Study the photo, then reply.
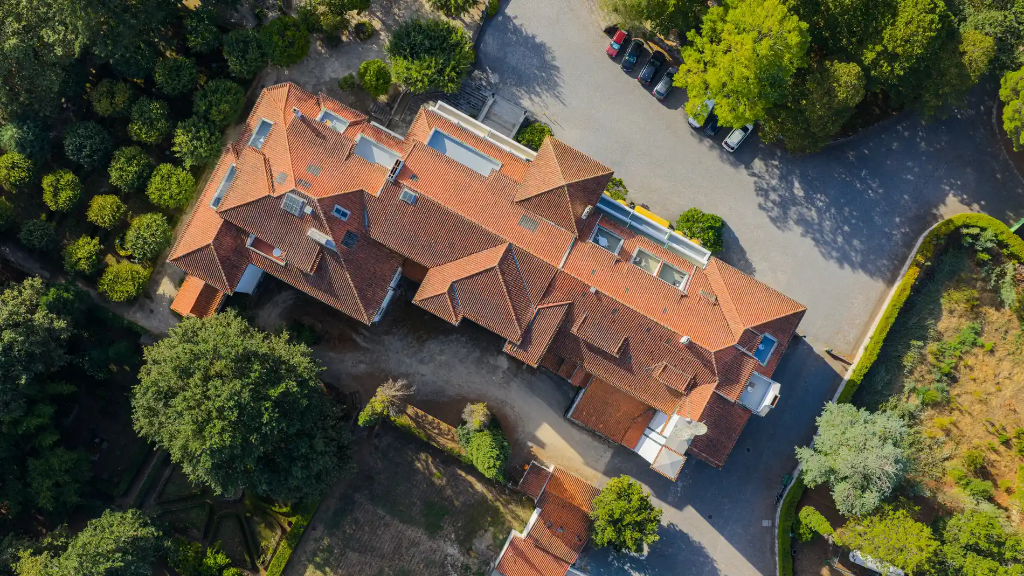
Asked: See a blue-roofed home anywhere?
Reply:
No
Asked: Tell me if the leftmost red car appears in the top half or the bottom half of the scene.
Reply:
top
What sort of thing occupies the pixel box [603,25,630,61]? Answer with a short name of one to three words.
car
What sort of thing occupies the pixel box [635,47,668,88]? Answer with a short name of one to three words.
car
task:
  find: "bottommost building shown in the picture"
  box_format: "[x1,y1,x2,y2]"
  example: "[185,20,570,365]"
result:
[484,454,601,576]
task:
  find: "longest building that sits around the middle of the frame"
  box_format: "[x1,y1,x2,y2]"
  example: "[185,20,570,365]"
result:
[166,80,808,480]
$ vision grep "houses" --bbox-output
[166,80,808,480]
[484,454,601,576]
